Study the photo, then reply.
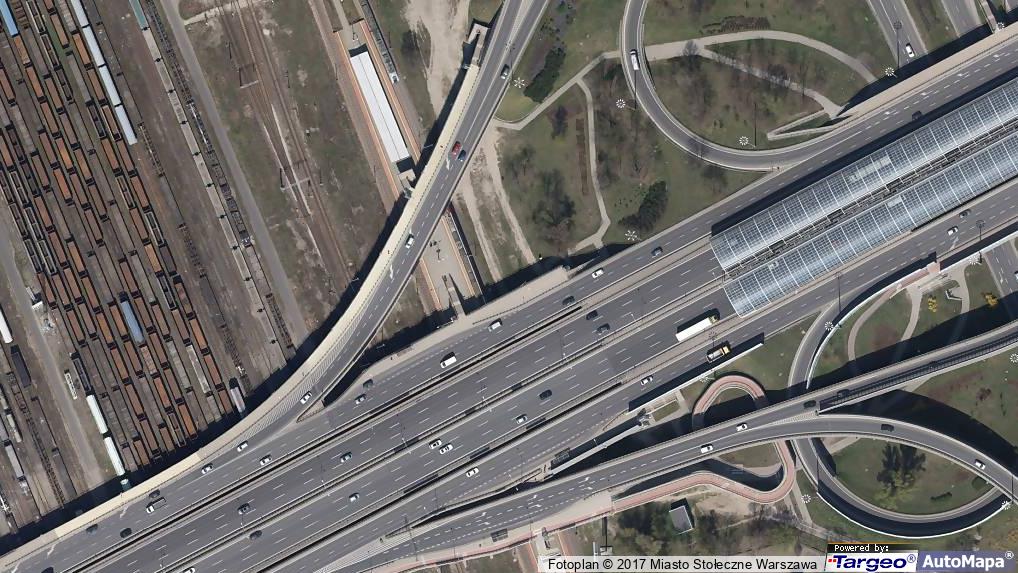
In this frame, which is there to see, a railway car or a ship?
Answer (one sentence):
Visible in the photo is a railway car.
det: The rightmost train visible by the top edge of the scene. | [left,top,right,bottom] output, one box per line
[361,0,401,83]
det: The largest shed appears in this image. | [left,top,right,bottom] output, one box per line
[668,505,694,533]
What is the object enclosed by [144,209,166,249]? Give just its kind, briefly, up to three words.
rail car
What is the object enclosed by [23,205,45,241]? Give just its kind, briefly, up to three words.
rail car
